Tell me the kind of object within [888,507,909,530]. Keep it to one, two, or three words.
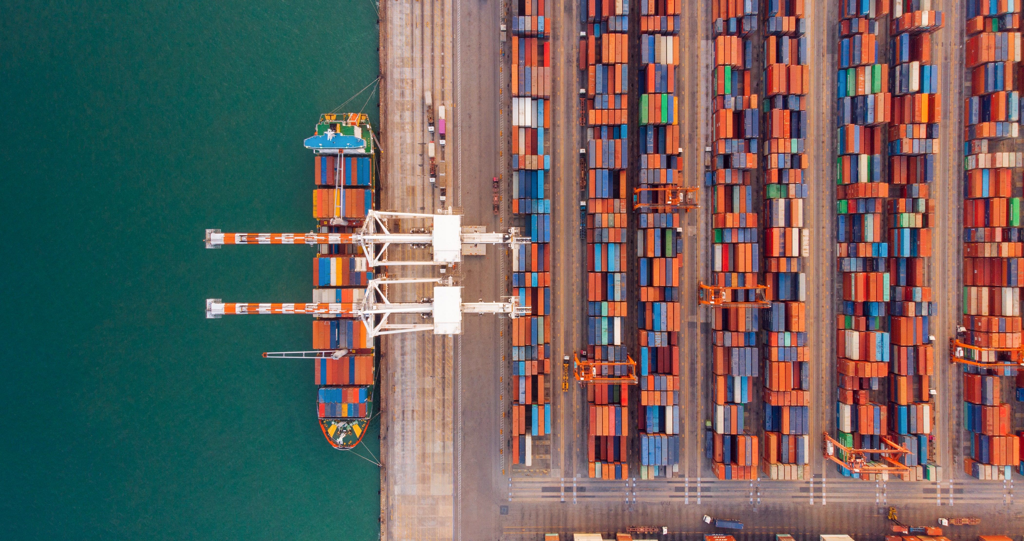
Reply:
work vehicle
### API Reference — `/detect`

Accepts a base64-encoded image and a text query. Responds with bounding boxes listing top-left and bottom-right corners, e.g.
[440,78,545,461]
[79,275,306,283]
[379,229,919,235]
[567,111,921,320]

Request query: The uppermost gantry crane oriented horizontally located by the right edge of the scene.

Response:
[950,337,1024,369]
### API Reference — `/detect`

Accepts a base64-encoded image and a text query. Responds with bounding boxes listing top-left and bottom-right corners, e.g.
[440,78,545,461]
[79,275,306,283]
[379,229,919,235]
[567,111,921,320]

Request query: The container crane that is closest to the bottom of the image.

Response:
[822,432,906,474]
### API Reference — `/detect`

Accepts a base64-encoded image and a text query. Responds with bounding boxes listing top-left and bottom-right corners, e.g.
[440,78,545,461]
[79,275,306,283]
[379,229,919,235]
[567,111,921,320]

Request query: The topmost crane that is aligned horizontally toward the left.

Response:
[202,204,530,272]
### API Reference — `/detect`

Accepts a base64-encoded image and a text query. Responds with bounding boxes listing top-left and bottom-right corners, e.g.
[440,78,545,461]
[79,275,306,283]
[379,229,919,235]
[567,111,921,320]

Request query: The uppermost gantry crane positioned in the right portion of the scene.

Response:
[634,187,703,214]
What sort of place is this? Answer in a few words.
port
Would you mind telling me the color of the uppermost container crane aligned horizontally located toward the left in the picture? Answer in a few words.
white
